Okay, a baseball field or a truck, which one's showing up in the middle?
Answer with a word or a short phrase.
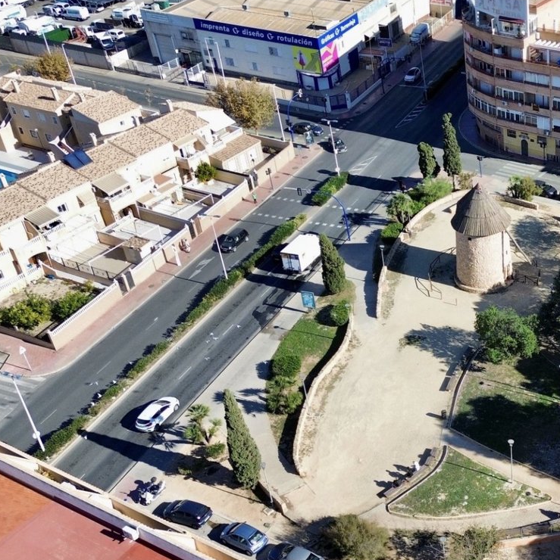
truck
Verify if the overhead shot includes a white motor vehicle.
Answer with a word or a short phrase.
Yes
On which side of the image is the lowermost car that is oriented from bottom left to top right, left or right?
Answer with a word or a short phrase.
left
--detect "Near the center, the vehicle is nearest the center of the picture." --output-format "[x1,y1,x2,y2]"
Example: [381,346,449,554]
[272,232,321,275]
